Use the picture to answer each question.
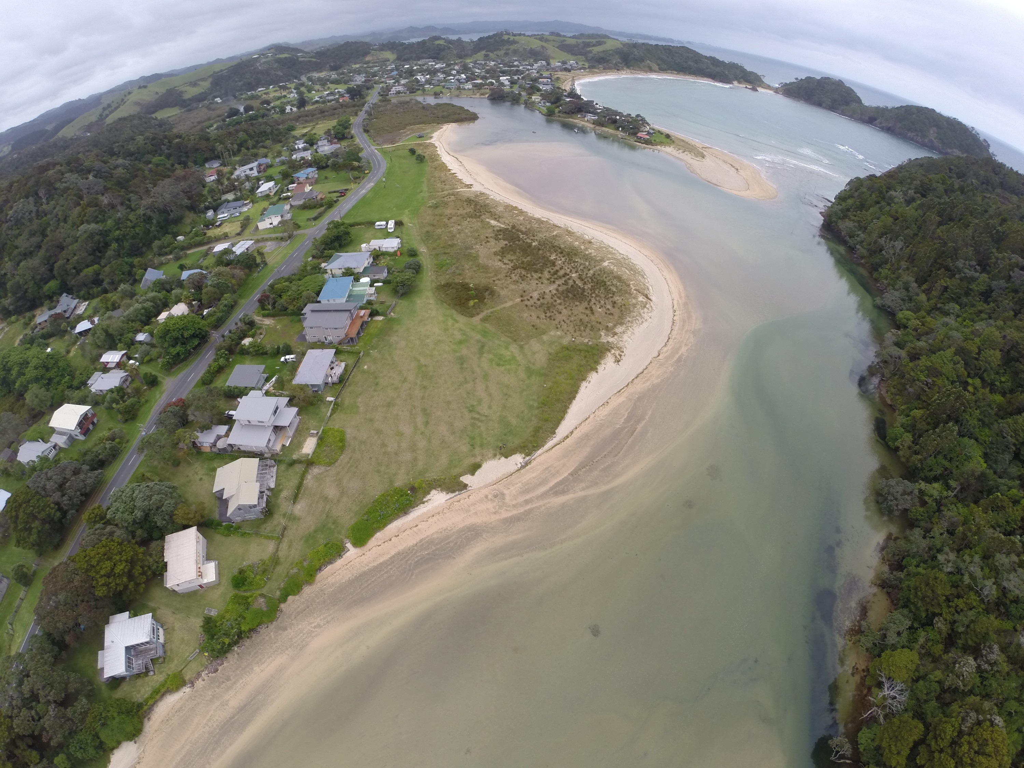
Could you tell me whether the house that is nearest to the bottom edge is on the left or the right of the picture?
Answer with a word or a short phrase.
left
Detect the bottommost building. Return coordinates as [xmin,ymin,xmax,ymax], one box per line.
[98,611,166,681]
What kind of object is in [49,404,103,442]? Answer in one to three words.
house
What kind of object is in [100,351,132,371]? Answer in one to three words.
house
